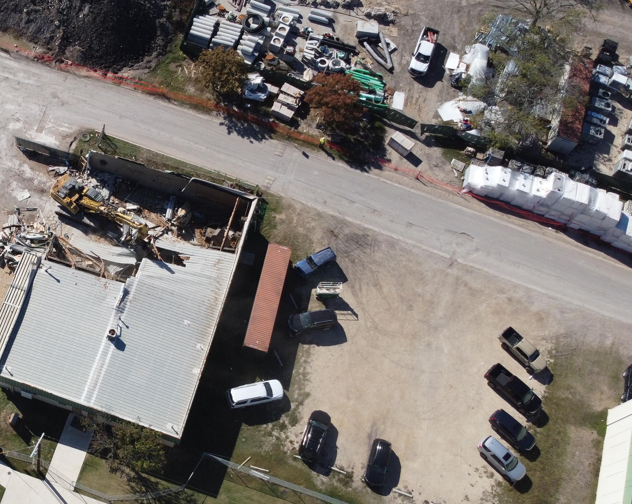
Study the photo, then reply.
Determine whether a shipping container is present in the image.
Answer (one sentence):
Yes, a shipping container can be made out from above.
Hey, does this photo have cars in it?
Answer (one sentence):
Yes, there's a car here.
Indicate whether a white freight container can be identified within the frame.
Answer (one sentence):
No, I can see no white freight container in this picture.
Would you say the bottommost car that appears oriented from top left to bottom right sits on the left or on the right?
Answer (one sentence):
It is on the right.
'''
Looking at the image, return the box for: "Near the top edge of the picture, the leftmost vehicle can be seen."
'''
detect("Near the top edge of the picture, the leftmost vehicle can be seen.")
[409,22,442,77]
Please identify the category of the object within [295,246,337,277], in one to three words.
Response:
car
